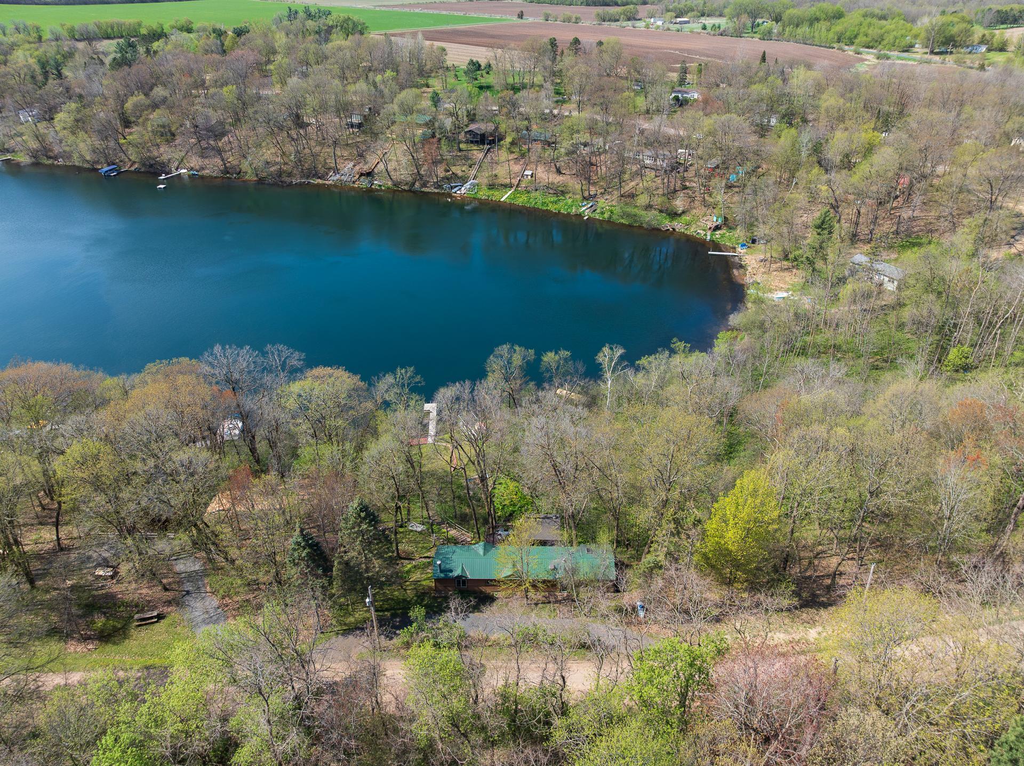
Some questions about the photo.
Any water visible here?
Yes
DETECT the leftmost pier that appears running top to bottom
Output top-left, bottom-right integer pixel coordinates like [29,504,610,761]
[422,400,441,444]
